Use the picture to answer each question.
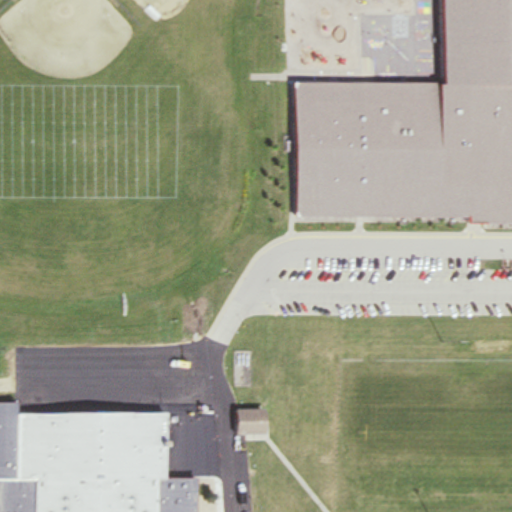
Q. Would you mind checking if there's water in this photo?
No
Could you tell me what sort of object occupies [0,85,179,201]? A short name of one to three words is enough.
sports field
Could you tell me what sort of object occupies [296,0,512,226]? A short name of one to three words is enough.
building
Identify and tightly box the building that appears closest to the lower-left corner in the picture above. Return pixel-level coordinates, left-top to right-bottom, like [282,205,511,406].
[0,402,198,512]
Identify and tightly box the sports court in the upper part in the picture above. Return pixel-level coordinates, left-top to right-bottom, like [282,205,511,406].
[360,1,440,78]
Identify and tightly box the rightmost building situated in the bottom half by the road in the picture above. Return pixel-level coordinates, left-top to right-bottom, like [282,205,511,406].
[238,409,269,435]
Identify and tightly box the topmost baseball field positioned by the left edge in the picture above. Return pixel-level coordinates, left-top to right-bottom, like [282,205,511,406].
[0,0,132,80]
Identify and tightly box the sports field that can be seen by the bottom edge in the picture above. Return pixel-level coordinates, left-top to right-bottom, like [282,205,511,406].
[341,359,512,512]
